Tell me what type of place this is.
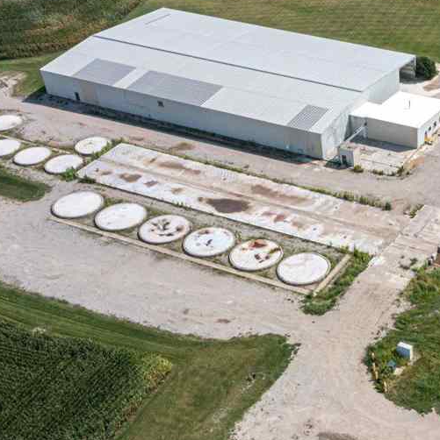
industrial area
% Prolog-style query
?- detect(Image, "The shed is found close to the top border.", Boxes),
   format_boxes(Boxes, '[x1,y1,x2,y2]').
[38,7,417,159]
